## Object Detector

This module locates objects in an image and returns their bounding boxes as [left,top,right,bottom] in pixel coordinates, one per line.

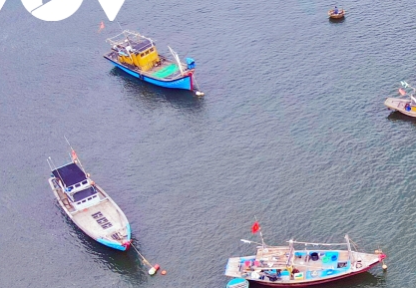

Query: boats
[328,10,345,20]
[37,125,151,269]
[98,23,200,91]
[382,80,416,118]
[223,218,386,286]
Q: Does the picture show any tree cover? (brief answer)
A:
No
